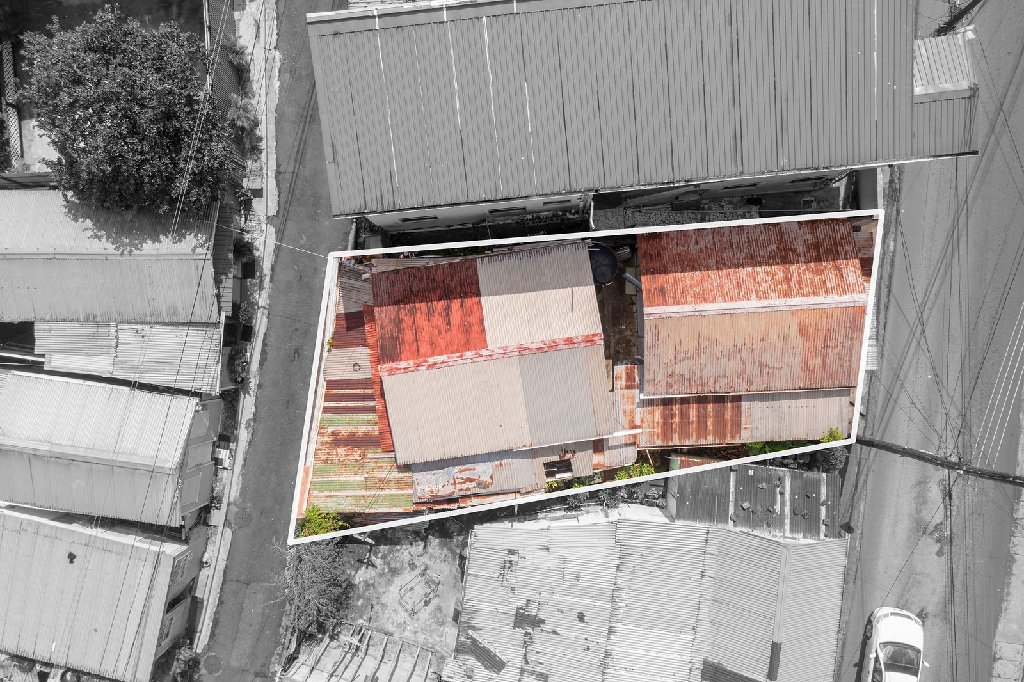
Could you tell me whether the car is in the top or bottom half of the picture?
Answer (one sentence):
The car sits in the bottom half of the picture.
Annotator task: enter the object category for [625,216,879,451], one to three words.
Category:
house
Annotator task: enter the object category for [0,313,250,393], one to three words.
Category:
shed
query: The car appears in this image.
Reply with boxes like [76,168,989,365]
[862,604,931,682]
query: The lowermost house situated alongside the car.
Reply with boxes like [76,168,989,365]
[442,509,849,682]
